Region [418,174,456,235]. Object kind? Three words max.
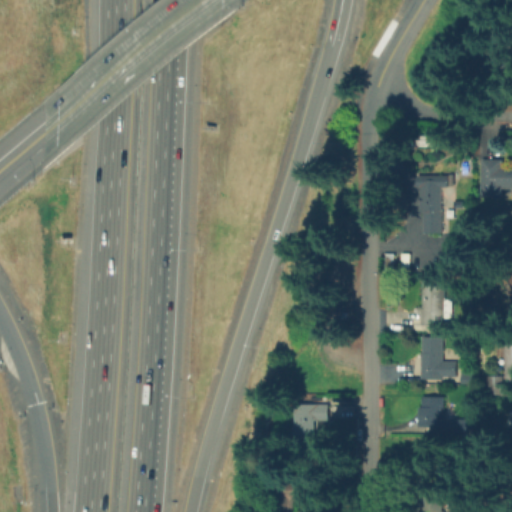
house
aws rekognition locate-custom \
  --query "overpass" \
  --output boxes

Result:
[0,0,250,206]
